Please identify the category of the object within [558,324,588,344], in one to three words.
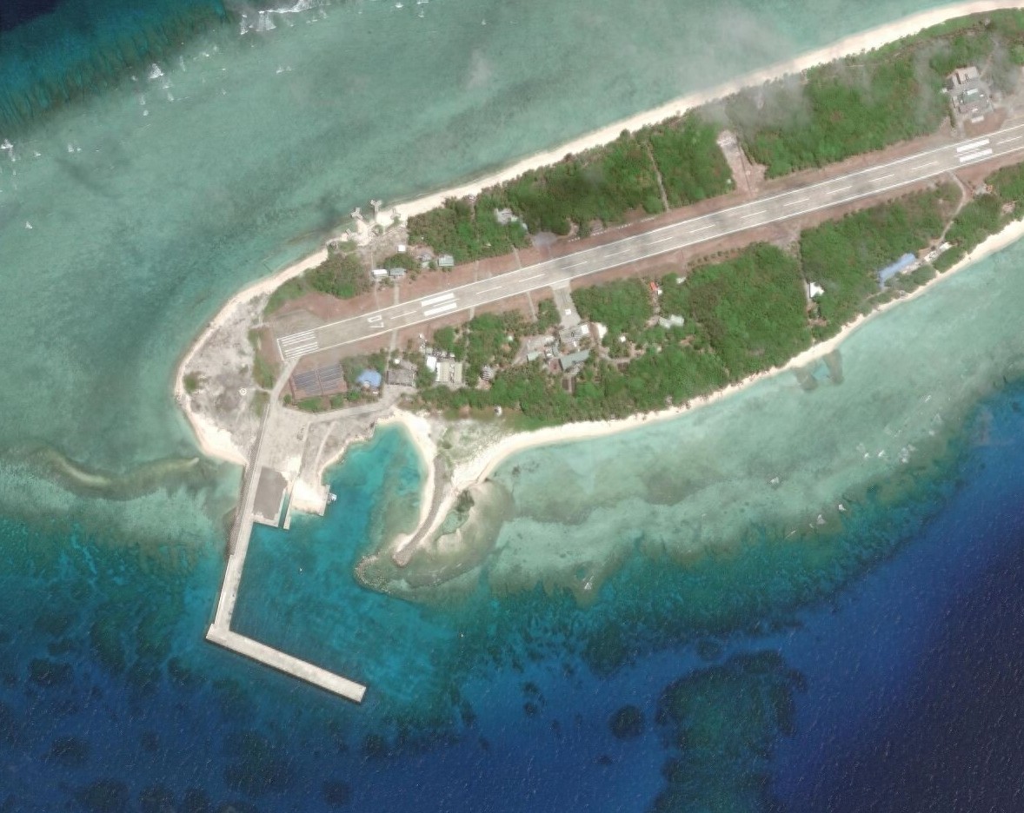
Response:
building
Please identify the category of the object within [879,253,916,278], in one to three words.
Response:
building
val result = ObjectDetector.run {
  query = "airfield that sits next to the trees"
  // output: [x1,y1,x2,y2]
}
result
[265,123,1024,361]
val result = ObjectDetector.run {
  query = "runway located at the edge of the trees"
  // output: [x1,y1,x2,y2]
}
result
[276,123,1024,361]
